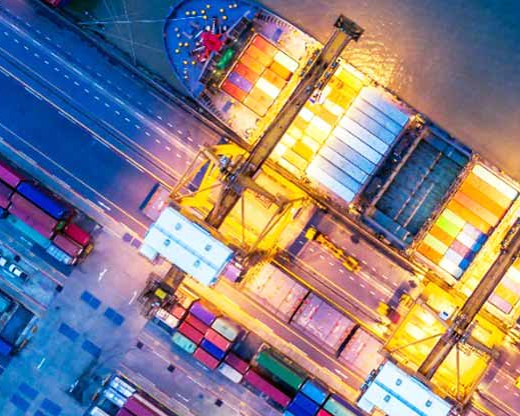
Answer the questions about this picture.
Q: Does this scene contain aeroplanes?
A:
No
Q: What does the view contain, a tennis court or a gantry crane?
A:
gantry crane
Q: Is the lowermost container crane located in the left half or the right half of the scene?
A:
right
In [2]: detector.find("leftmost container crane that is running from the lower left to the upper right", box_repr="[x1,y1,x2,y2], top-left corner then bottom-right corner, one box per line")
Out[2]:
[127,4,369,328]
